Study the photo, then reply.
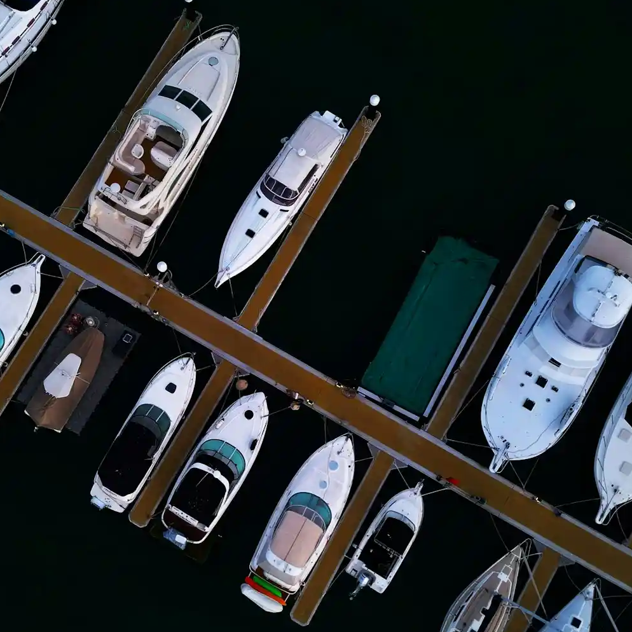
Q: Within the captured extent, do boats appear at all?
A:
Yes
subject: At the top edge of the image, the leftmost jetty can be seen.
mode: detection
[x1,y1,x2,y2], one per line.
[51,11,203,230]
